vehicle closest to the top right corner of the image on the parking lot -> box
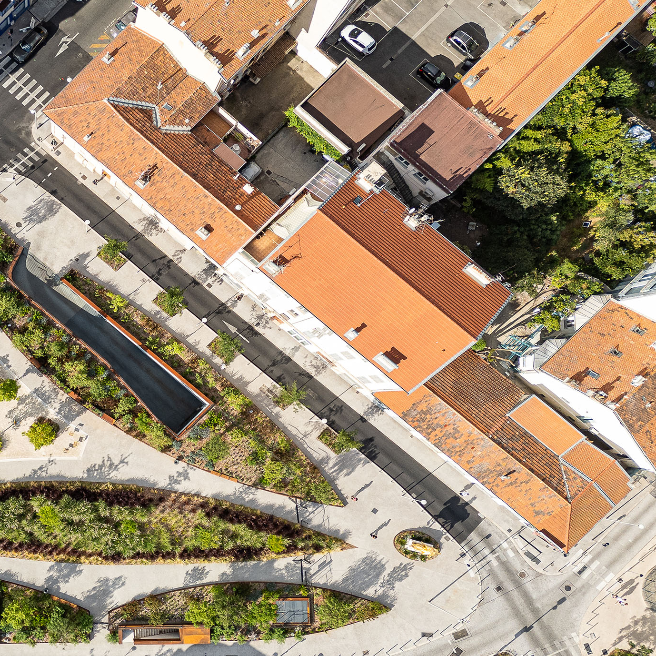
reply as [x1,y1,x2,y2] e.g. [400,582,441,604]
[445,26,483,62]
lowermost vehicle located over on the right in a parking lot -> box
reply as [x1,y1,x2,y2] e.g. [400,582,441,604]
[419,58,452,92]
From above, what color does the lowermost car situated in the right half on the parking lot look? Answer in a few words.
black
